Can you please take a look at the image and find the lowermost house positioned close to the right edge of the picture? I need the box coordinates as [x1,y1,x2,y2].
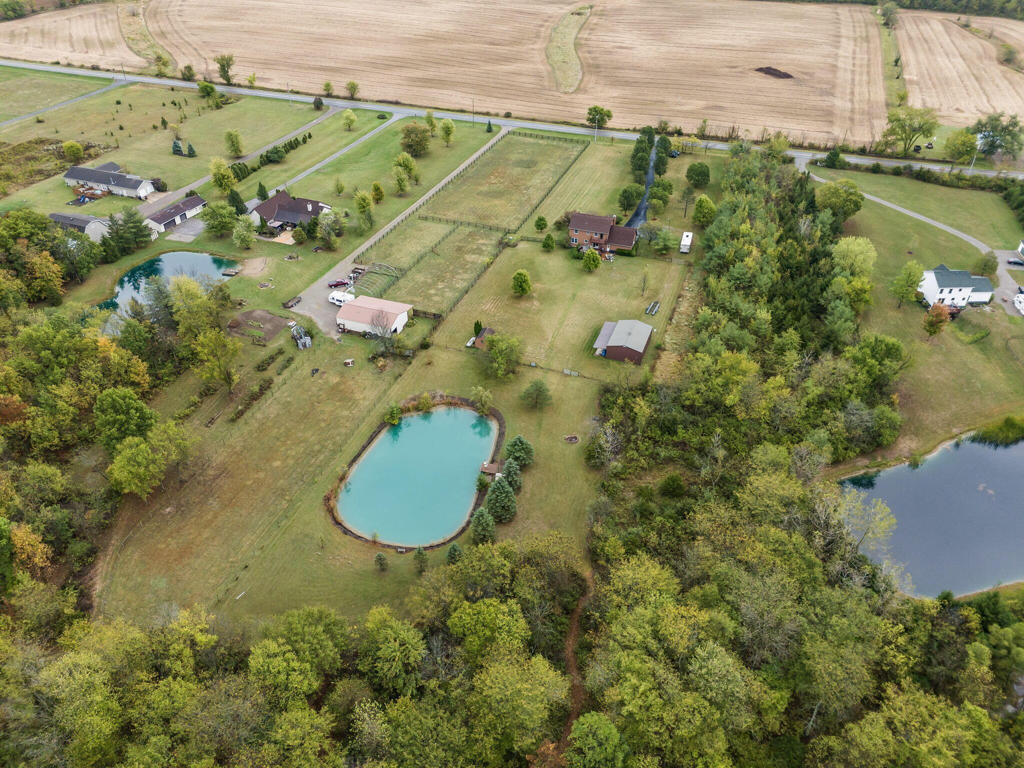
[919,260,994,306]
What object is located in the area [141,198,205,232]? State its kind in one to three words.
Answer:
building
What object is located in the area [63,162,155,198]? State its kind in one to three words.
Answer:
house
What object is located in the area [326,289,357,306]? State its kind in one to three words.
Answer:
vehicle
